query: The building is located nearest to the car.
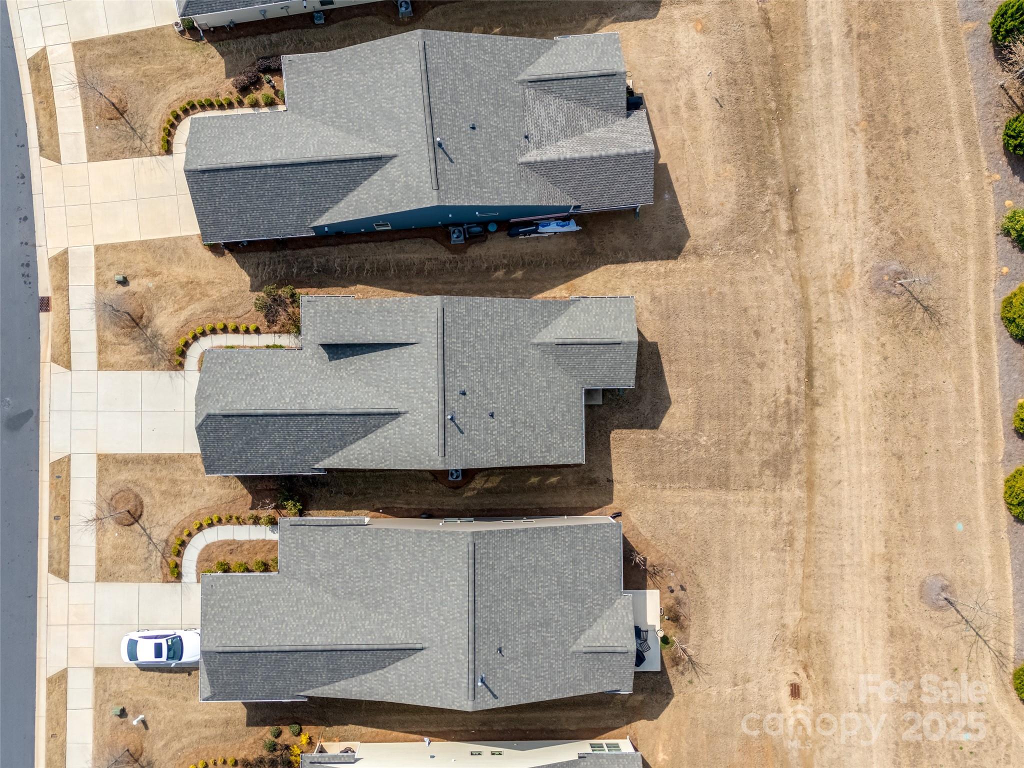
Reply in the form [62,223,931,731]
[199,512,636,713]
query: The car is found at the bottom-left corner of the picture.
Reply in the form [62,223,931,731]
[120,628,199,668]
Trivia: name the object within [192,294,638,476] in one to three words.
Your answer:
house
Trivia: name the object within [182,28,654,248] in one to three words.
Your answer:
house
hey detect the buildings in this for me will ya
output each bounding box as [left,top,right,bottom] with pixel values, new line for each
[298,738,642,768]
[192,294,638,476]
[175,0,388,42]
[182,28,654,248]
[199,512,636,713]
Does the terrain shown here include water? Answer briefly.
No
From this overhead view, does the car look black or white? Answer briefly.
white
